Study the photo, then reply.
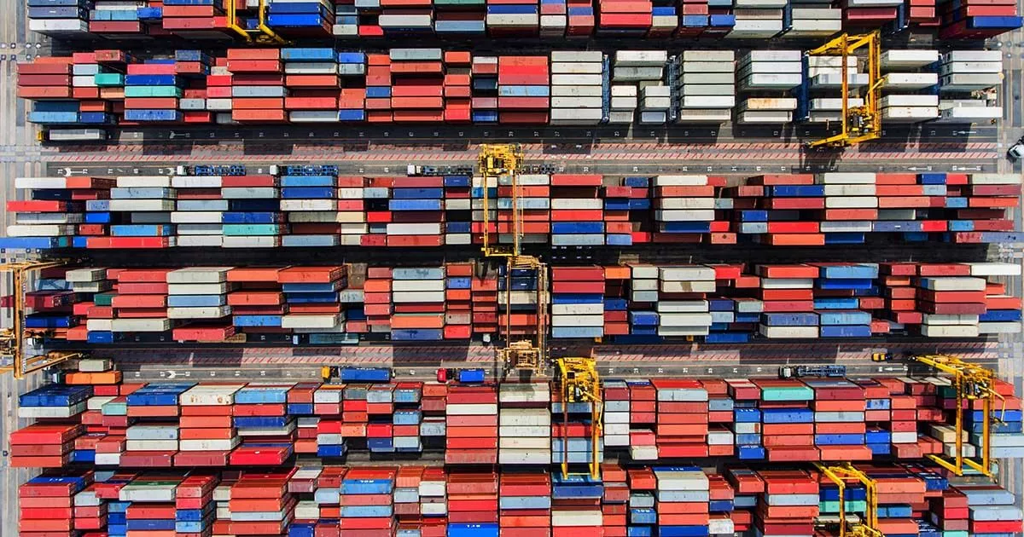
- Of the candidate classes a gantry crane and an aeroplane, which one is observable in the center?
gantry crane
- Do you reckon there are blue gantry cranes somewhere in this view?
No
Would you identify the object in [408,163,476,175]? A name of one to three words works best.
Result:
vehicle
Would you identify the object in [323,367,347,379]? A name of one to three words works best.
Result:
vehicle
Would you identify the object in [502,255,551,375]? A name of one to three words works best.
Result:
container crane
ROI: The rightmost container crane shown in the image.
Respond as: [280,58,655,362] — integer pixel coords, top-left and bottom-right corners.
[907,352,1010,476]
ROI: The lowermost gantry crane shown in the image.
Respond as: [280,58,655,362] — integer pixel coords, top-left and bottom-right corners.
[809,459,882,537]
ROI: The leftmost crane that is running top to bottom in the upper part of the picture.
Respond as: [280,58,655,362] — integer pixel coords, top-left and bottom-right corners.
[477,138,524,258]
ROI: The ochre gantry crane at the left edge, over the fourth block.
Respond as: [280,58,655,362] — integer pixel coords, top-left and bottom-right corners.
[0,262,75,376]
